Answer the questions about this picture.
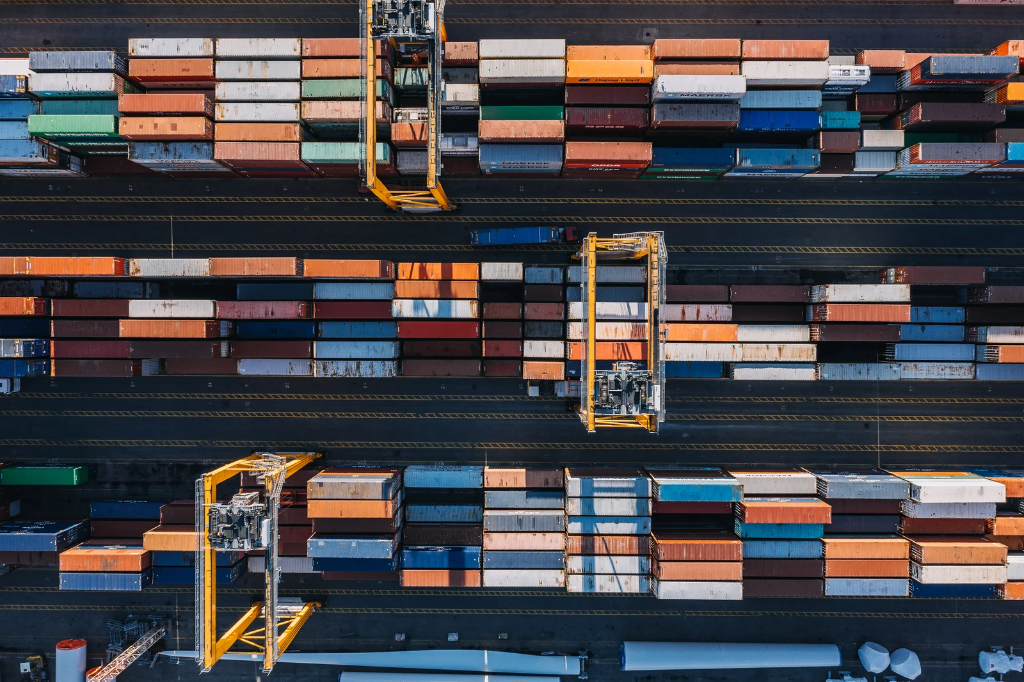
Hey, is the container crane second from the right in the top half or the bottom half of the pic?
top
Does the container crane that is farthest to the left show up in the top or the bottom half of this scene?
bottom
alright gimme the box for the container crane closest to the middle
[561,229,671,437]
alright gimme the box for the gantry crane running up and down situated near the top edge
[358,0,467,215]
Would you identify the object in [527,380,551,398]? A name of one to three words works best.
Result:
vehicle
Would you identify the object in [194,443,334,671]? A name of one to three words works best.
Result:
container crane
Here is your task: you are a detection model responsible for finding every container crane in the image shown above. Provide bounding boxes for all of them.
[358,0,467,215]
[561,229,671,437]
[194,443,334,671]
